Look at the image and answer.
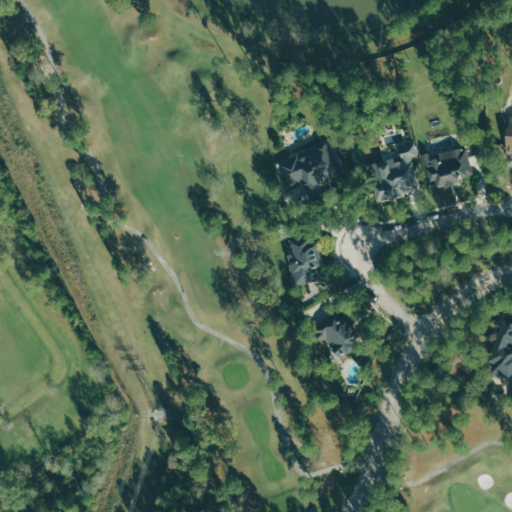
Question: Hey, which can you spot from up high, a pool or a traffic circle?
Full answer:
This aerial view contains a pool.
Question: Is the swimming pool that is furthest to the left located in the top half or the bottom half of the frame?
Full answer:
The top half of the photo is where the swimming pool that is furthest to the left is.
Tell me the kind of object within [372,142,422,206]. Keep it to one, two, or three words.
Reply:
house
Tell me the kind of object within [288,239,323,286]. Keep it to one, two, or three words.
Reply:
house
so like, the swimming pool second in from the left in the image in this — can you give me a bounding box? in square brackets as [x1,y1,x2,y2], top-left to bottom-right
[343,358,362,386]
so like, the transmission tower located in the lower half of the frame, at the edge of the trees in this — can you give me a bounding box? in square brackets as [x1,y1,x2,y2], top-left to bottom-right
[146,406,166,422]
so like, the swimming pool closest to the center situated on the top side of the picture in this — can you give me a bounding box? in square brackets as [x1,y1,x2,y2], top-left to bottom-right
[282,124,312,148]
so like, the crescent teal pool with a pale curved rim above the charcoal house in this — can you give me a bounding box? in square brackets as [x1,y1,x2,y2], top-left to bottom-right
[425,134,458,153]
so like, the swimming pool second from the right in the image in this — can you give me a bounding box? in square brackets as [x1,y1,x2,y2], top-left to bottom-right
[380,125,406,152]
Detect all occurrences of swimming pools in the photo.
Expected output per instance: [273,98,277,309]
[282,124,312,148]
[343,358,362,386]
[425,134,458,153]
[380,125,406,152]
